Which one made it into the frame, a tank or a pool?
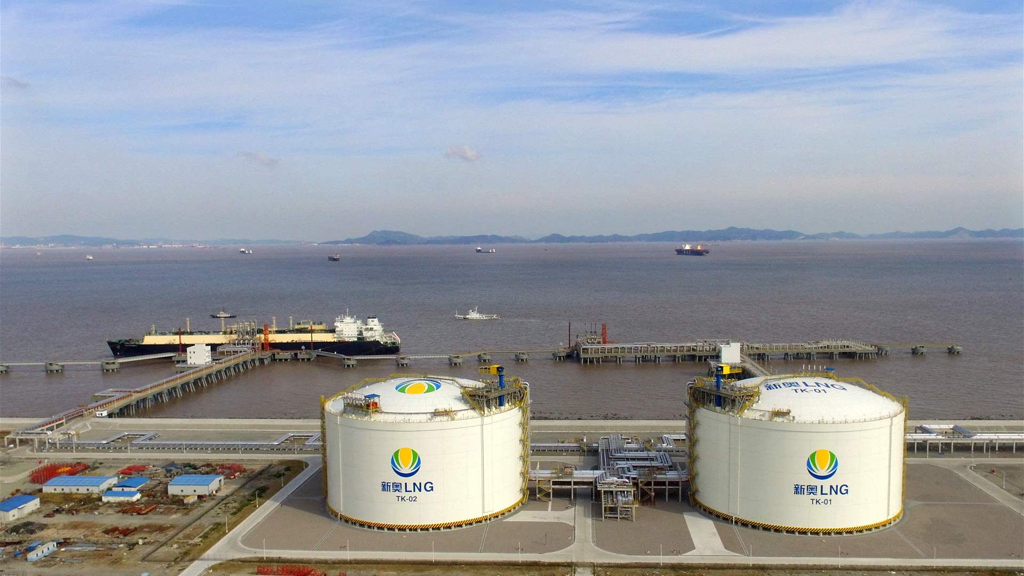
tank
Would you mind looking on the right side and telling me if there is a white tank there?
Yes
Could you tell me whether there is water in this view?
Yes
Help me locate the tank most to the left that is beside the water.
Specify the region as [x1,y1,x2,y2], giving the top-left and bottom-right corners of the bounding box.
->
[319,369,540,532]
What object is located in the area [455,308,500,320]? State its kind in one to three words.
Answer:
ship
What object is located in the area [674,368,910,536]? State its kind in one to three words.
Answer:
storage tank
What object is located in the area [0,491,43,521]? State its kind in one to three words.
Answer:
shed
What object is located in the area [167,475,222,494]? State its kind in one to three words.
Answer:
shed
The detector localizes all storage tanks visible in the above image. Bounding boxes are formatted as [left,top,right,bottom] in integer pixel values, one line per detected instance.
[319,369,540,532]
[674,368,910,536]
